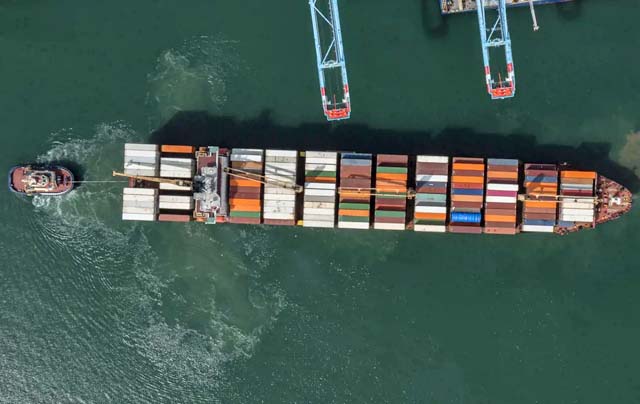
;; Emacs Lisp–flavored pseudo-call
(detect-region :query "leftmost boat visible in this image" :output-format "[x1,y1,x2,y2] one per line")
[6,164,74,196]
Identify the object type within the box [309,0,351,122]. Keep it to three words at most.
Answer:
container crane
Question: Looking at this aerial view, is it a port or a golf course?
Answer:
port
